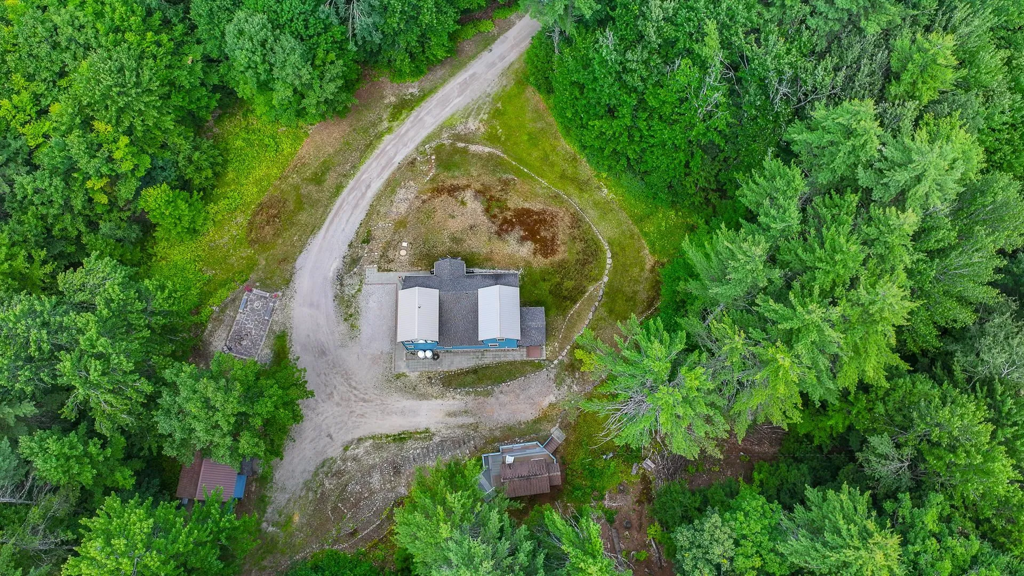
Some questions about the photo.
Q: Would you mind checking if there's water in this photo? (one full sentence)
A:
No, there's no water in this view.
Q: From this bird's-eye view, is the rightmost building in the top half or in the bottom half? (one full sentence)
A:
It is in the bottom half that the rightmost building appears.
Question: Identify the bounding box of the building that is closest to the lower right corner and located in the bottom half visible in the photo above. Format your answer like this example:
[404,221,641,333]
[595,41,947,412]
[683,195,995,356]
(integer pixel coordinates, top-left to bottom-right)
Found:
[479,427,565,501]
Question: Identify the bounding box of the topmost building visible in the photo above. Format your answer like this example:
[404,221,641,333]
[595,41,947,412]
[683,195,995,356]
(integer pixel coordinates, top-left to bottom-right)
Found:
[395,256,546,351]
